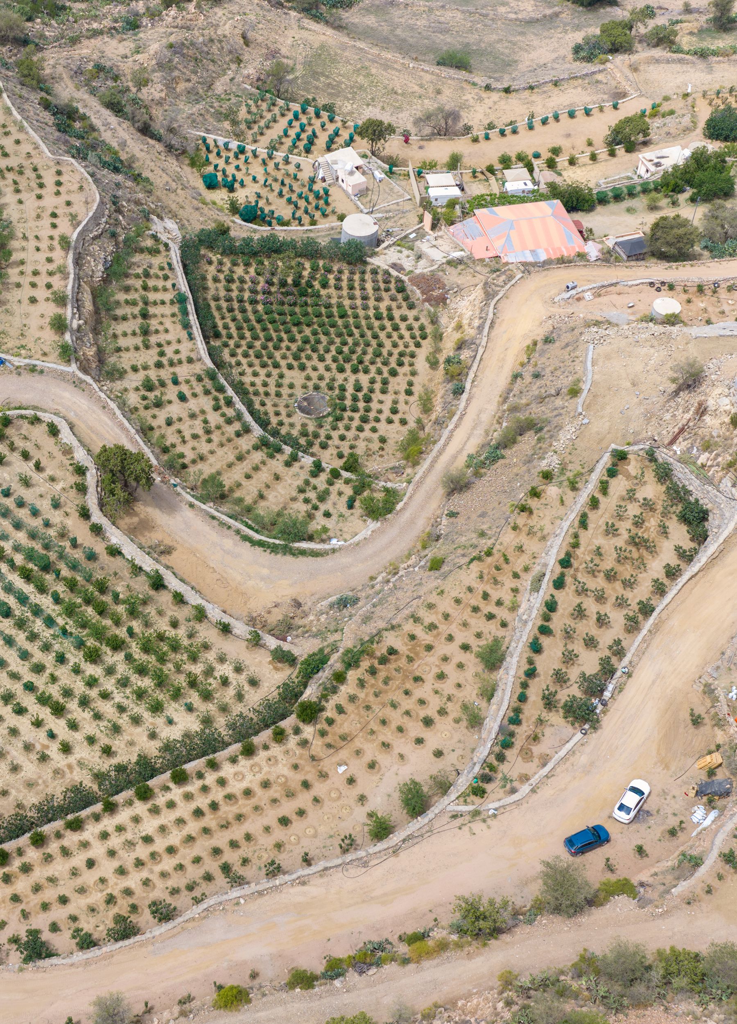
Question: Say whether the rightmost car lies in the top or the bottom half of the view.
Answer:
bottom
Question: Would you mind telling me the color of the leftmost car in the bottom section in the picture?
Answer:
blue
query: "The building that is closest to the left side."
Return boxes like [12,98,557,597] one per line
[318,146,367,196]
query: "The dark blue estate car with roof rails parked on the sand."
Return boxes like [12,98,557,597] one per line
[564,824,611,855]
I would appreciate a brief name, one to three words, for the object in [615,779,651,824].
car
